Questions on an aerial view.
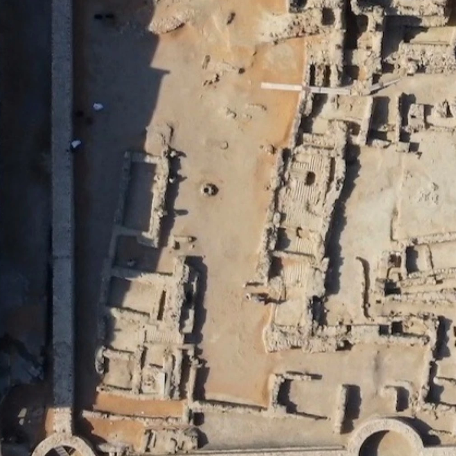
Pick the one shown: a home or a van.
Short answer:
home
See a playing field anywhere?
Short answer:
No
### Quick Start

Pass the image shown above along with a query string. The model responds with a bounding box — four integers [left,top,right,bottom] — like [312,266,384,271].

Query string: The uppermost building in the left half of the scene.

[97,131,201,345]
